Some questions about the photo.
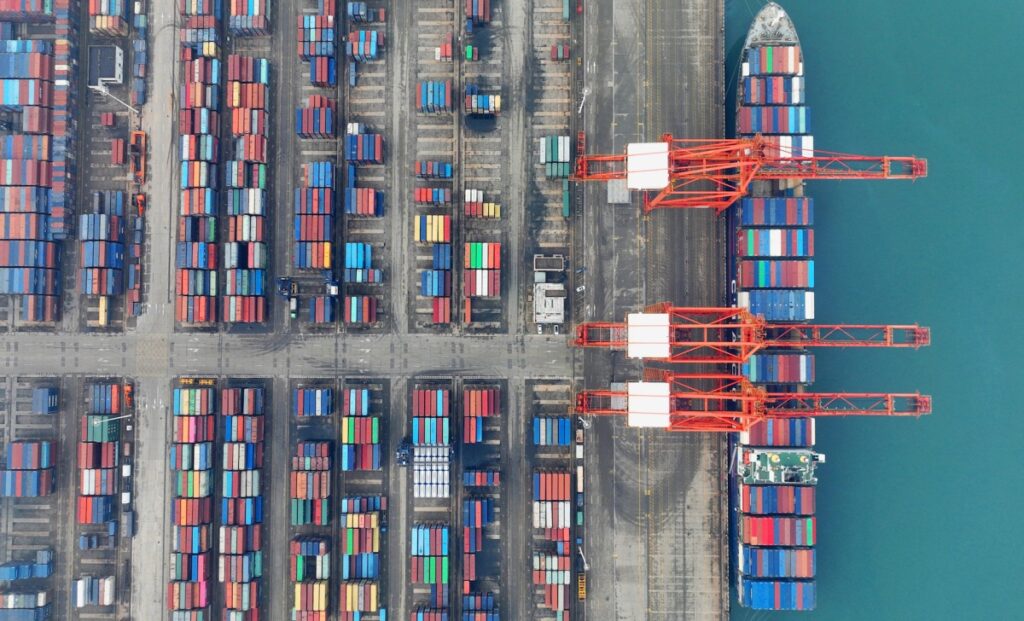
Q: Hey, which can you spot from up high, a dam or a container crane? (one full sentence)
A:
The image shows a container crane.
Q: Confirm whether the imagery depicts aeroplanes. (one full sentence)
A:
No, the frame has no aeroplane in it.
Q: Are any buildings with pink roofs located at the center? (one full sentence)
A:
No, no building with a pink roof can be made out at the center.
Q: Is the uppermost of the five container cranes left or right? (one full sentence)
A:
The uppermost of the five container cranes is on the right side of the image.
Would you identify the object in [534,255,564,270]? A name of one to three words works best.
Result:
building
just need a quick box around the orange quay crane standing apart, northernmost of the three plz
[571,130,925,221]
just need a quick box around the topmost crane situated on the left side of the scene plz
[269,271,347,299]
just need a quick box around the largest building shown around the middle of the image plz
[535,283,567,323]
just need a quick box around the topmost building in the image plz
[87,44,123,102]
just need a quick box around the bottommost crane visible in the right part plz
[572,362,930,432]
